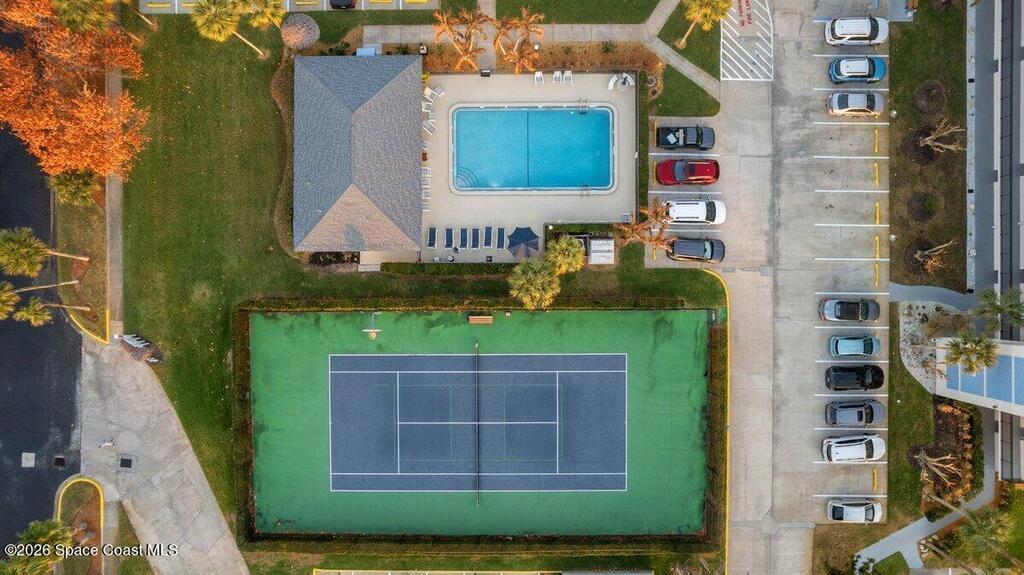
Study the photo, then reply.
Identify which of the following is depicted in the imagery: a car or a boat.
car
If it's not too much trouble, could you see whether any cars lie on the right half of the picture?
Yes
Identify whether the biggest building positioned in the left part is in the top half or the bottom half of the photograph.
top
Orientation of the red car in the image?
from left to right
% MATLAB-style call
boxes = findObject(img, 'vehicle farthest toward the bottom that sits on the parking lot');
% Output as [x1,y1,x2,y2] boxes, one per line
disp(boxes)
[826,494,881,522]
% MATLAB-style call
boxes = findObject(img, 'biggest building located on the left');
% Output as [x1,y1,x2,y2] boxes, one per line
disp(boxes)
[293,48,422,251]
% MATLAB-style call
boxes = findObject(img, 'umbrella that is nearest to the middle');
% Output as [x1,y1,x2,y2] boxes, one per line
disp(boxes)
[505,228,540,257]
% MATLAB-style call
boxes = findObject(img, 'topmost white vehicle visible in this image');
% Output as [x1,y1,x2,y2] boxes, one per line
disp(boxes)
[824,14,888,46]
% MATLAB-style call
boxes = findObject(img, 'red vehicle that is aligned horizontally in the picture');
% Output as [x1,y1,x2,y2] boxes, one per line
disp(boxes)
[657,155,719,185]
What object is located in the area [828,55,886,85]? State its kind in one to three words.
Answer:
car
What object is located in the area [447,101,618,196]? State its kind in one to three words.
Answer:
swimming pool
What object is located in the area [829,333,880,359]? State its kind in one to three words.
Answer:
car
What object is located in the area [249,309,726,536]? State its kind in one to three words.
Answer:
tennis court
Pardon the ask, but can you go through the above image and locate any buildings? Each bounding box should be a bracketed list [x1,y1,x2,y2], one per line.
[293,48,422,251]
[994,0,1024,491]
[590,239,616,264]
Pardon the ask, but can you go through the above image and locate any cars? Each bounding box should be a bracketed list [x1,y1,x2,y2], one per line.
[824,14,888,46]
[827,90,885,118]
[332,0,356,8]
[829,333,880,359]
[657,155,719,185]
[820,431,885,460]
[666,235,724,264]
[828,55,886,85]
[824,397,885,425]
[826,494,881,522]
[825,363,884,392]
[663,196,726,226]
[819,296,879,324]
